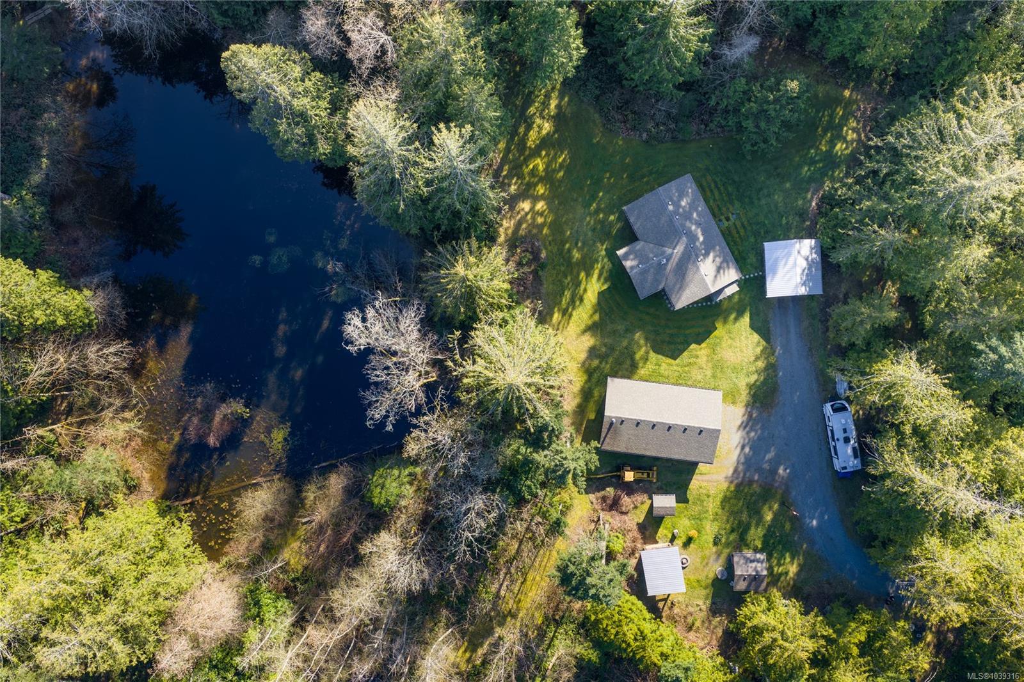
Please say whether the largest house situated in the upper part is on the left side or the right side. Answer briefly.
right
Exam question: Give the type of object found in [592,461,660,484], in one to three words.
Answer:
work vehicle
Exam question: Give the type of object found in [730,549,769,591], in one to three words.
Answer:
shed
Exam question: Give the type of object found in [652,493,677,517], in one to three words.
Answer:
shed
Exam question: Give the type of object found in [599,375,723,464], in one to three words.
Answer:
barn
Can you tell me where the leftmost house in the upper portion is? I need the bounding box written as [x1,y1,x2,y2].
[617,174,742,312]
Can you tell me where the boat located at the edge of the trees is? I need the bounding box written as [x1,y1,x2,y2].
[835,373,848,399]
